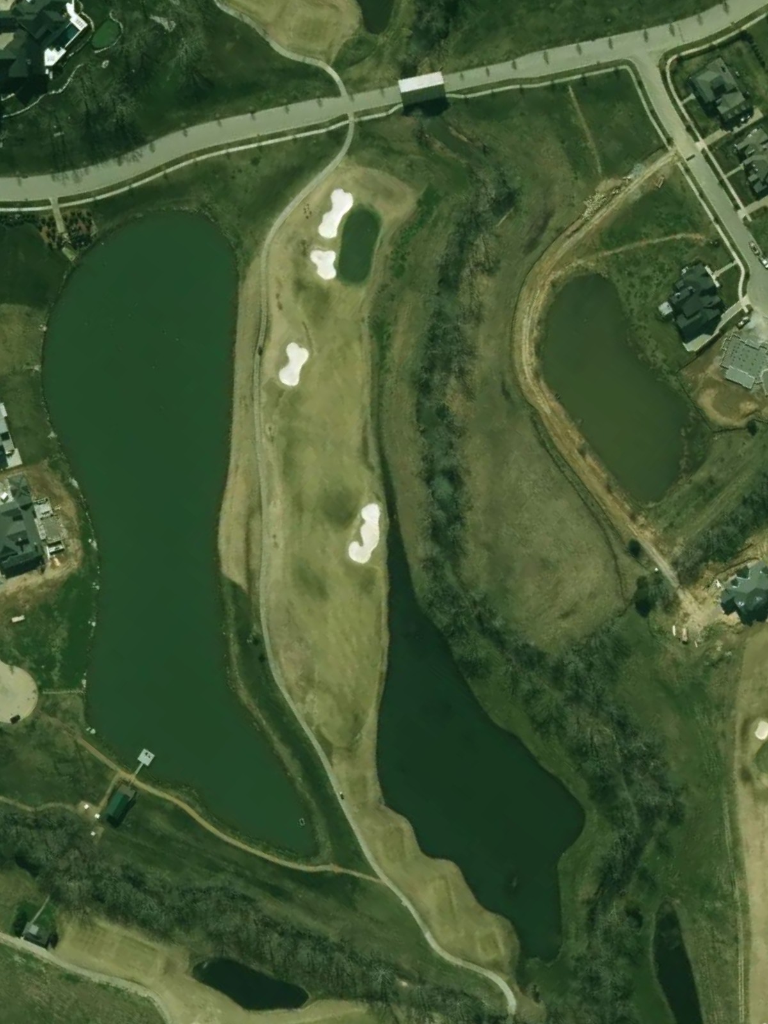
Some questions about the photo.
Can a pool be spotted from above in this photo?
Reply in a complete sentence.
Yes, there's a pool down there.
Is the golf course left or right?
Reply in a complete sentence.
The golf course sits on the left side.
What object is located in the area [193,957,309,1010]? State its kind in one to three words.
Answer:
pond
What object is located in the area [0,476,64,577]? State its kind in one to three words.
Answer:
house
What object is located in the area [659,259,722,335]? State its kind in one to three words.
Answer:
house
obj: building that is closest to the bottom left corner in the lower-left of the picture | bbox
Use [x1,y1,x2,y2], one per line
[22,922,48,945]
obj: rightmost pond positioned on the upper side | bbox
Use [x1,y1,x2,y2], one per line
[541,273,690,505]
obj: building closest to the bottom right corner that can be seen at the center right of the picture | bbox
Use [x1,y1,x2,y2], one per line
[721,559,768,628]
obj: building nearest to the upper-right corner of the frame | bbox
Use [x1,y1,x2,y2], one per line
[686,55,753,123]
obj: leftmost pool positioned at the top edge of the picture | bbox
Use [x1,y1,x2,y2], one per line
[55,23,79,47]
